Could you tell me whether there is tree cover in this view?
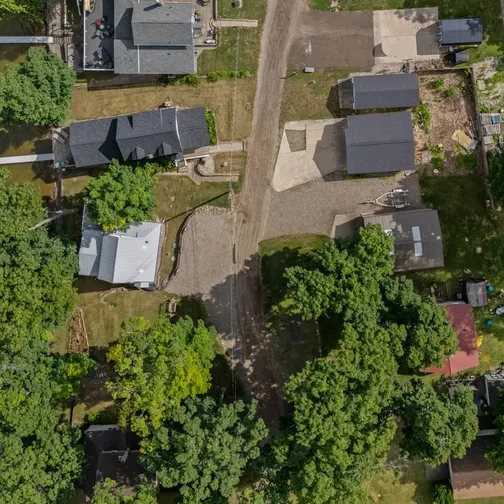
Yes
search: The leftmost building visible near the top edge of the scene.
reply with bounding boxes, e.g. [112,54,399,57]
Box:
[82,0,205,74]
